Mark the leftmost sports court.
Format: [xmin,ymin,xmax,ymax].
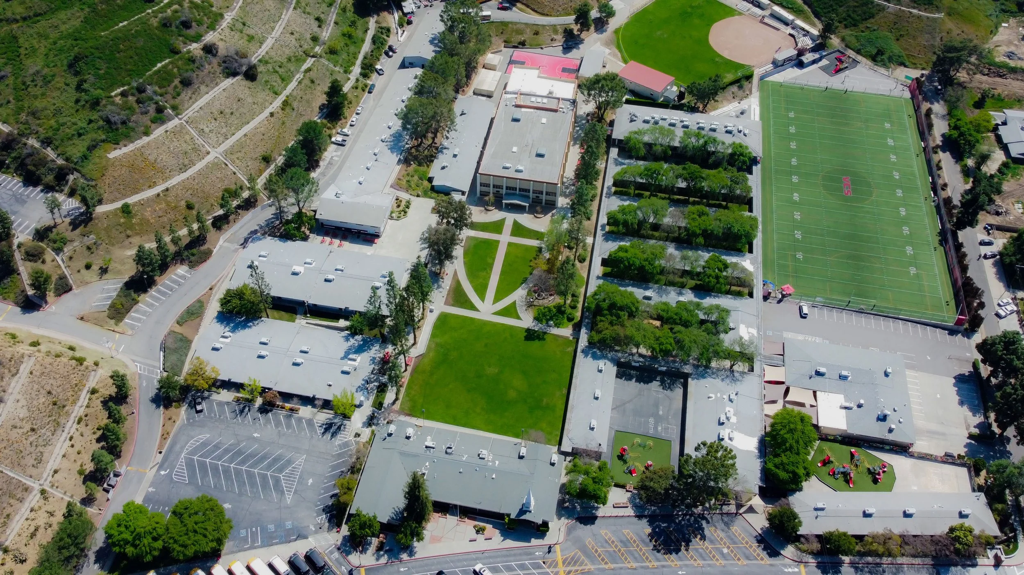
[506,50,580,79]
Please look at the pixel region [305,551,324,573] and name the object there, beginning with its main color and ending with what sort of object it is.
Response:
black vehicle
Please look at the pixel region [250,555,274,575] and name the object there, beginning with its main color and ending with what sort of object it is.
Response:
white bus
